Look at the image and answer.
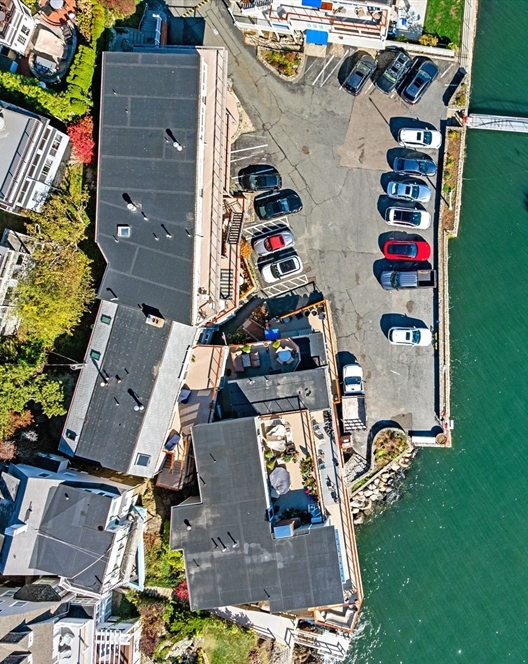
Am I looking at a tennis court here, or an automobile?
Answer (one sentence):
Of the two, only an automobile appears.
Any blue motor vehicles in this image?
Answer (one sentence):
Yes, there's a blue motor vehicle here.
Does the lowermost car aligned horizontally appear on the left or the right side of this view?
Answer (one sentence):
It is on the right.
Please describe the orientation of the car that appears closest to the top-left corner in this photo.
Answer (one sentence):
The car that appears closest to the top-left corner is oriented from side to side.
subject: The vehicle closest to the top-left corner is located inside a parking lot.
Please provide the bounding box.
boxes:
[238,170,285,193]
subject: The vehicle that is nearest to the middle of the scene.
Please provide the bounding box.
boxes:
[260,256,304,282]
